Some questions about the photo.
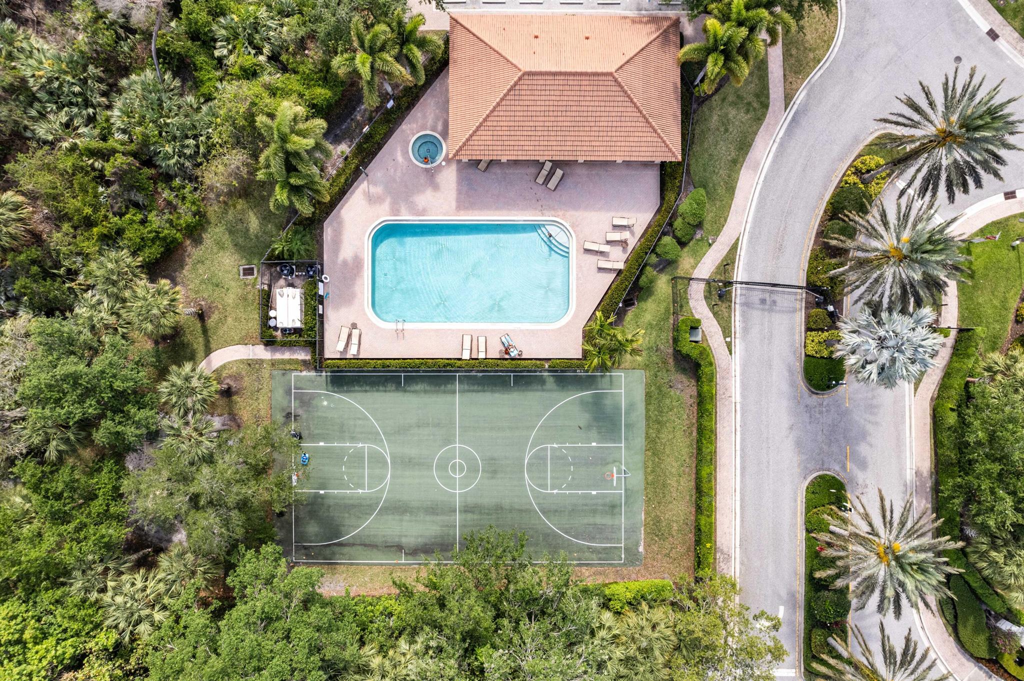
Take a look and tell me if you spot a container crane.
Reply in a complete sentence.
No, the photo shows no container crane.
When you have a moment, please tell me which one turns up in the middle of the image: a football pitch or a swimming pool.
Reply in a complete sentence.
What appears in the middle of the image is a swimming pool.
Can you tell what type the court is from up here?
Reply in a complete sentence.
I'd identify the court as a basketball court.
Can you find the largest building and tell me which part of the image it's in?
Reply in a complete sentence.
The largest building appears toward the top of the photo.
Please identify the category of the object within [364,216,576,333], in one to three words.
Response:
swimming pool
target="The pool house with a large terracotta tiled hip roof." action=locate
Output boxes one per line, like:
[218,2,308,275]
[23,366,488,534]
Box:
[447,12,683,166]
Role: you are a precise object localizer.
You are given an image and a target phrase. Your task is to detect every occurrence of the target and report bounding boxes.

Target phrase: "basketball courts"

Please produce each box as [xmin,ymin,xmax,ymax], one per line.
[272,370,645,567]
